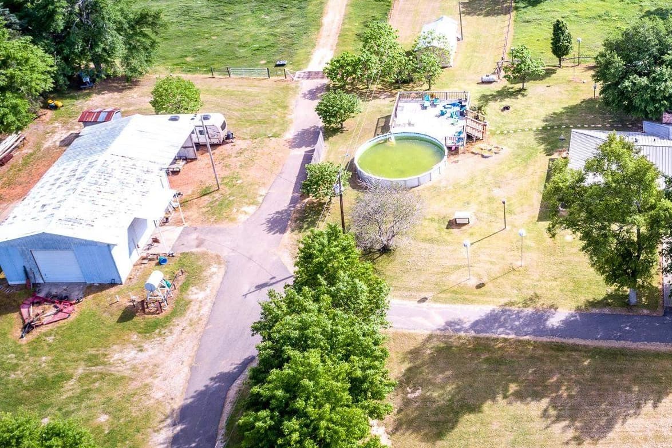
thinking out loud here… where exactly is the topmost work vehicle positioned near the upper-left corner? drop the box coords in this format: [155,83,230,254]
[71,74,99,87]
